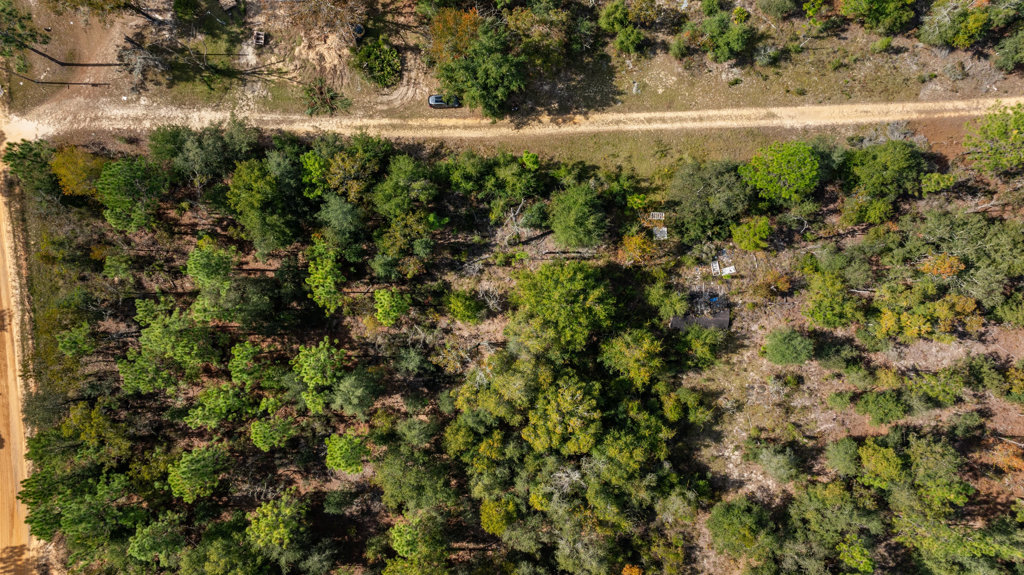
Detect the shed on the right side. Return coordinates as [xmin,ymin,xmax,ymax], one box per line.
[670,282,732,332]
